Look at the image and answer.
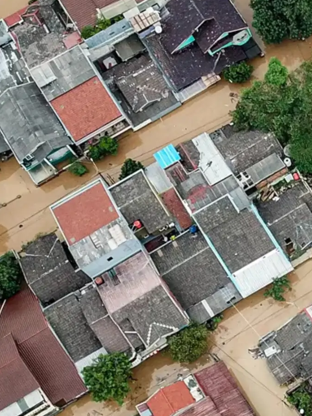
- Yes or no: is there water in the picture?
Yes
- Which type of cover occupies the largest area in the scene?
buildings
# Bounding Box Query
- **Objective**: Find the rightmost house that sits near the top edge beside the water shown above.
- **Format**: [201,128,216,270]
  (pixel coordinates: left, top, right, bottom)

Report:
[146,0,266,112]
